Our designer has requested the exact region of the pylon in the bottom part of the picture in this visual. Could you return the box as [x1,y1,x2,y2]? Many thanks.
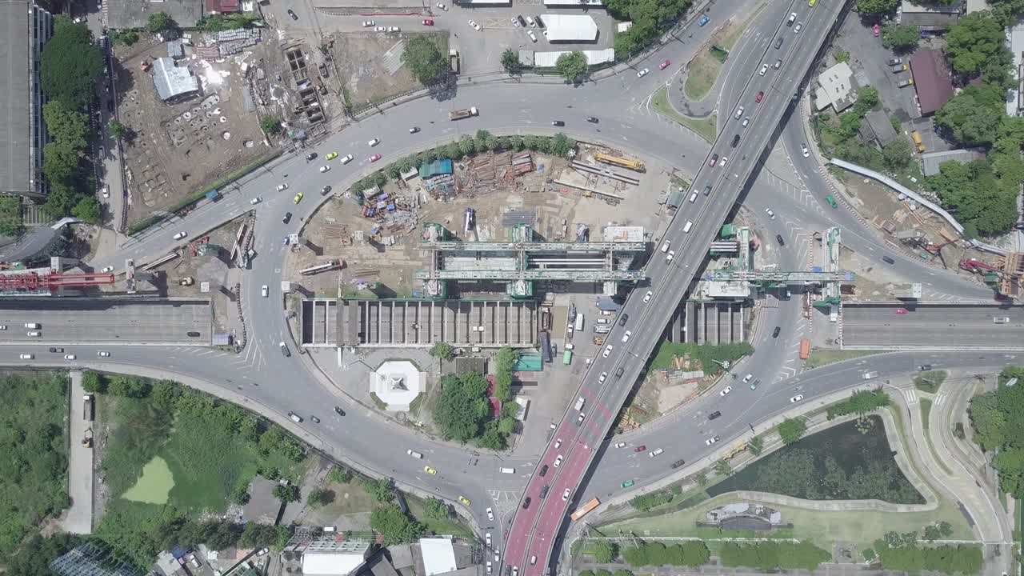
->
[618,531,644,552]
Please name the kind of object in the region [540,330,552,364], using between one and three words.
vehicle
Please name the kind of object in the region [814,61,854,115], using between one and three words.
house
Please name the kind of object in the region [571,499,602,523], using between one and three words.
bus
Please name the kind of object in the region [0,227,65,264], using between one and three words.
building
